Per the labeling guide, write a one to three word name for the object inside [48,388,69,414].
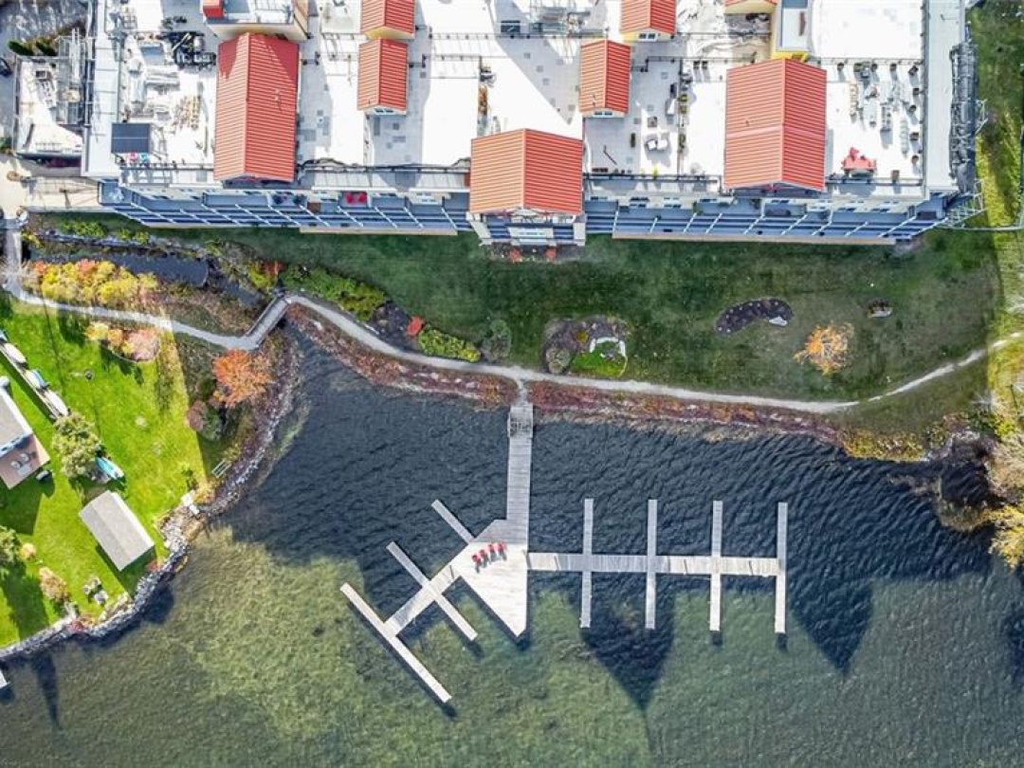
boat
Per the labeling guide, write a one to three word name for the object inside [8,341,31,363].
boat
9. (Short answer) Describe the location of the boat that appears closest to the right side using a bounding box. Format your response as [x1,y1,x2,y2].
[95,457,122,480]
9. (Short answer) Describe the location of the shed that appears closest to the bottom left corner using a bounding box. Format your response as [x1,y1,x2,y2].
[78,490,159,571]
